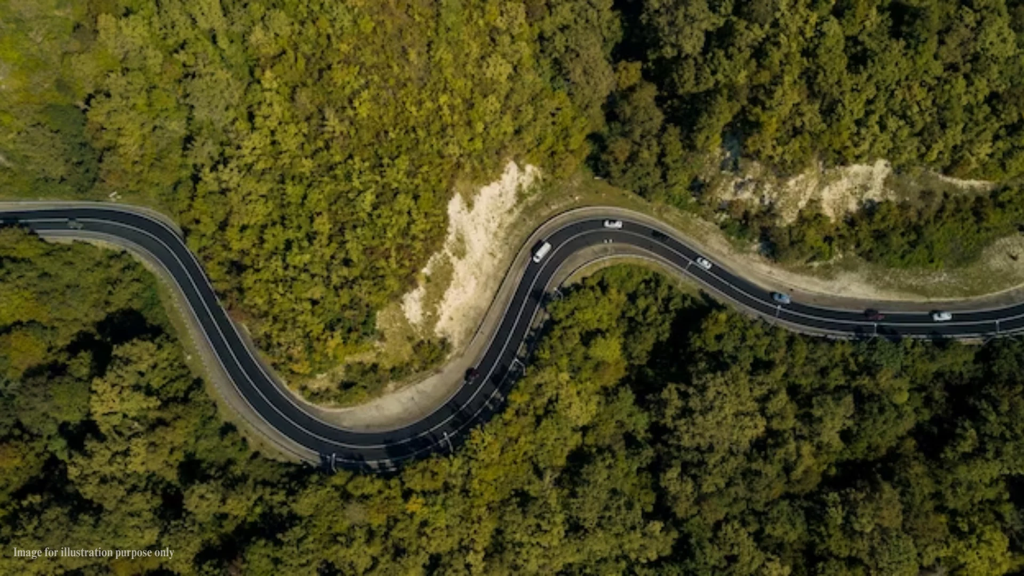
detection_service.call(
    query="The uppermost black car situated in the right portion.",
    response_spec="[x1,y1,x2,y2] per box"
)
[653,230,672,243]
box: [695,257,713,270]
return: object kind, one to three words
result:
vehicle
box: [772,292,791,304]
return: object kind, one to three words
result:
vehicle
